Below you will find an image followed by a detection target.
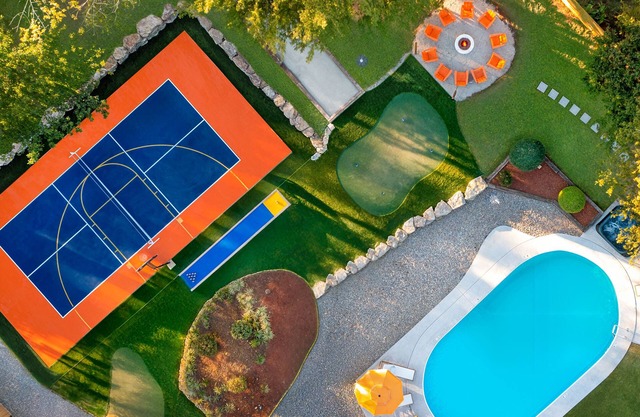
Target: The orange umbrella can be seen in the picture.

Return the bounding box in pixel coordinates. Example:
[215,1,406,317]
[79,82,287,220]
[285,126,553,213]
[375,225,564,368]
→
[356,367,403,415]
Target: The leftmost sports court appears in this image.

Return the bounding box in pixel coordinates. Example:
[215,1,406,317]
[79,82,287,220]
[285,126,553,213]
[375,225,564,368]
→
[0,31,291,366]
